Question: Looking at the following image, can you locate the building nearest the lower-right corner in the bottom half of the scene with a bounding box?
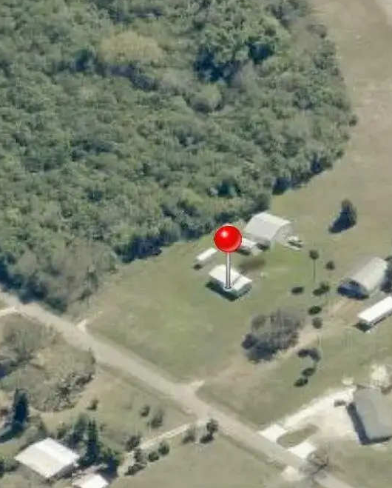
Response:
[348,391,392,449]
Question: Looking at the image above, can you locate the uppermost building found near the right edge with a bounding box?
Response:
[342,257,389,295]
